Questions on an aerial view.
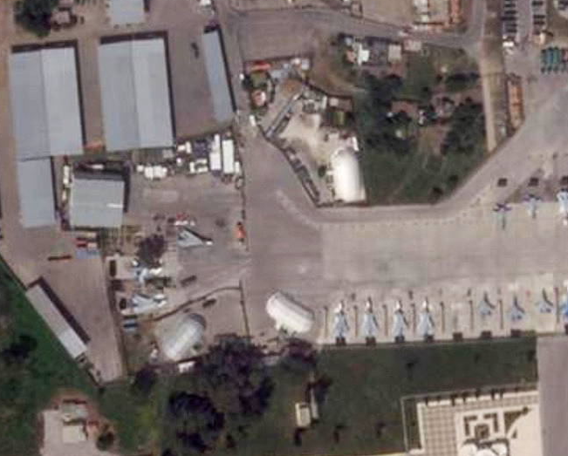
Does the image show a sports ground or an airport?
airport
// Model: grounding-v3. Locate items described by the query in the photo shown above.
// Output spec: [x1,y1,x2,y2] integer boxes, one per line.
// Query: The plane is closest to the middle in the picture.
[176,230,211,245]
